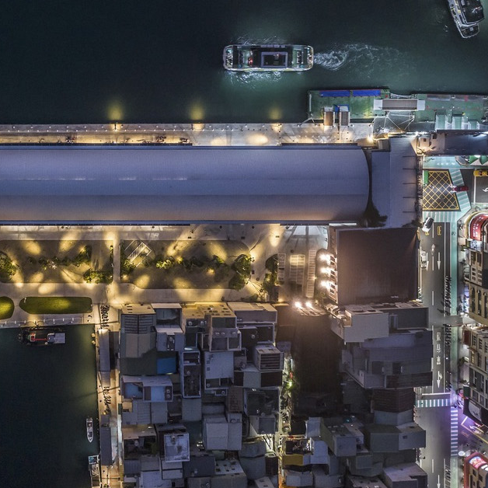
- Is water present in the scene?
Yes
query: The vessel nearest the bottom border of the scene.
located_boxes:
[88,455,100,488]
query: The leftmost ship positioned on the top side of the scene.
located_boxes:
[223,45,316,72]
